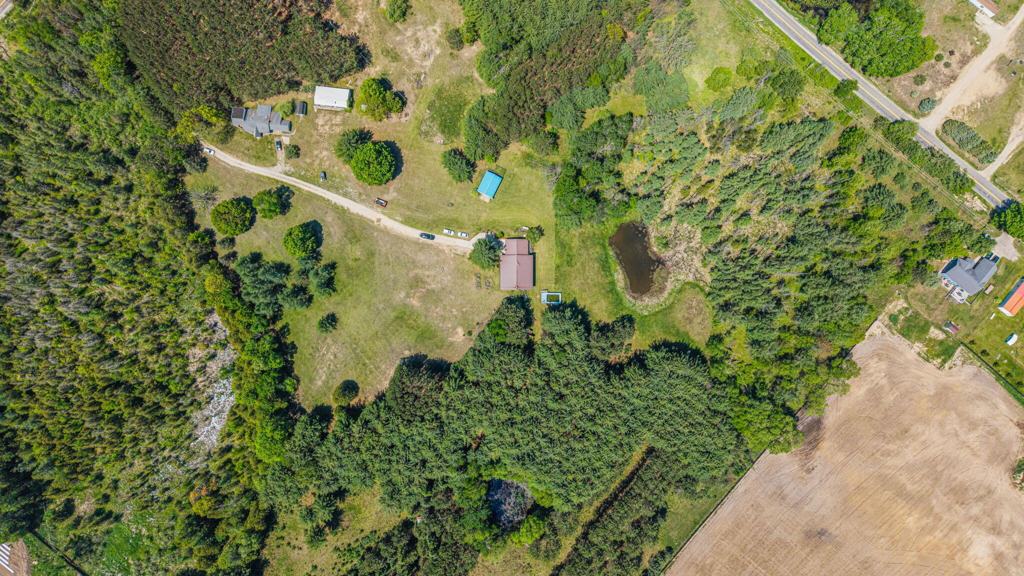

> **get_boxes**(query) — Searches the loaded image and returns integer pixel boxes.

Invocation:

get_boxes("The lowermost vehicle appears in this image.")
[1003,334,1017,347]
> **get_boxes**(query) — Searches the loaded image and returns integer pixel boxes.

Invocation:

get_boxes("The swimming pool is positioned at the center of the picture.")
[543,290,562,305]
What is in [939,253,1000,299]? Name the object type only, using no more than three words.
house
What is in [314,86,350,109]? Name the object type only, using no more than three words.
barn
